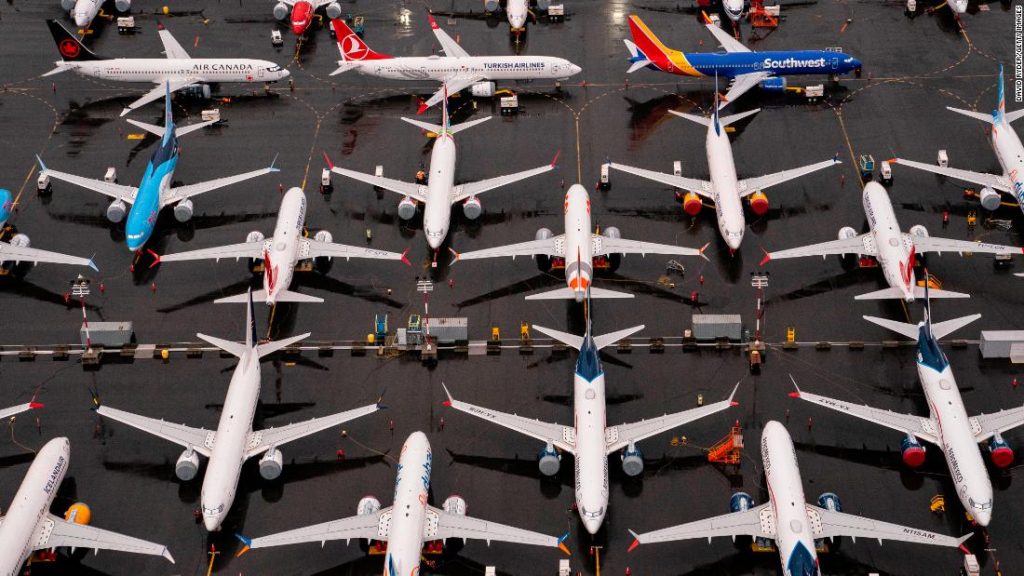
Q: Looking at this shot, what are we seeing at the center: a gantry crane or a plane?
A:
plane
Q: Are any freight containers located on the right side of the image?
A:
Yes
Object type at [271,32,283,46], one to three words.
vehicle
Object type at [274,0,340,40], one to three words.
airplane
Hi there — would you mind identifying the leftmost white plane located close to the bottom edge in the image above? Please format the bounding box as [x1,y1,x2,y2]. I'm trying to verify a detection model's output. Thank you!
[0,439,173,576]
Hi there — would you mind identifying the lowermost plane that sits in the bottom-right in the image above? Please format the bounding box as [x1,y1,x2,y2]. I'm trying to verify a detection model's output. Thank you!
[632,424,969,576]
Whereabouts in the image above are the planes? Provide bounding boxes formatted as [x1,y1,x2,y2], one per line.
[149,185,410,308]
[324,77,561,253]
[447,182,710,304]
[91,285,387,535]
[442,285,740,534]
[0,439,173,576]
[0,191,99,276]
[40,78,278,255]
[42,18,289,116]
[235,431,569,576]
[944,0,966,19]
[765,180,1024,303]
[334,15,580,113]
[0,385,46,421]
[632,424,969,576]
[602,71,841,249]
[624,11,863,110]
[890,68,1024,222]
[793,274,1024,524]
[274,0,340,40]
